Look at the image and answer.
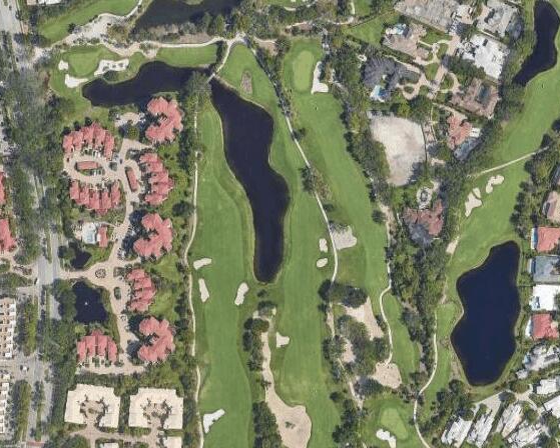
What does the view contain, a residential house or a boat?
residential house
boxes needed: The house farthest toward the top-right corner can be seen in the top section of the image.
[473,0,524,40]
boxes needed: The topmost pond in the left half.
[133,0,235,36]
